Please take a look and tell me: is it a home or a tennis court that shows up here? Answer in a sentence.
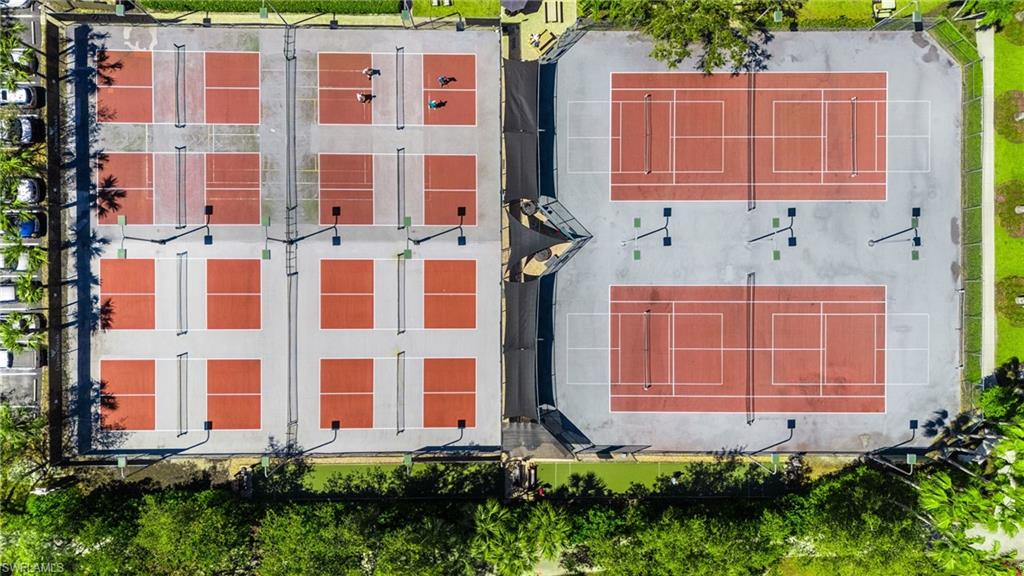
The image shows a tennis court.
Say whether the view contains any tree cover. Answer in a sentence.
Yes, tree cover can be seen from above here.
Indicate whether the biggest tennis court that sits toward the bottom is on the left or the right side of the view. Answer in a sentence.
You can find the biggest tennis court that sits toward the bottom on the right side of the picture.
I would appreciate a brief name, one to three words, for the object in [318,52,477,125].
sports court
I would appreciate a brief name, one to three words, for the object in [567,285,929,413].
tennis court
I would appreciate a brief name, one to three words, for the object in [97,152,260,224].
sports court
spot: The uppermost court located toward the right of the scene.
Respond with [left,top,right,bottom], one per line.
[567,72,931,202]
